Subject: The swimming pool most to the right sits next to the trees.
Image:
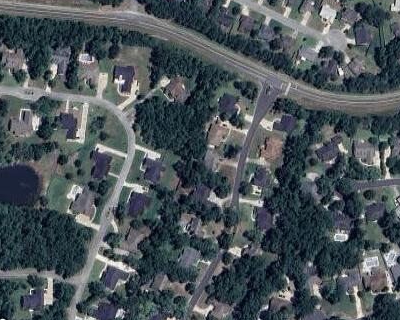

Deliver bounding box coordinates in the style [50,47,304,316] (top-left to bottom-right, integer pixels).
[383,247,398,264]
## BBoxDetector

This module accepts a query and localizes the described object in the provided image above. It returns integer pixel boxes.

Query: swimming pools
[363,254,380,269]
[69,183,81,199]
[80,53,92,61]
[335,233,347,242]
[383,247,398,264]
